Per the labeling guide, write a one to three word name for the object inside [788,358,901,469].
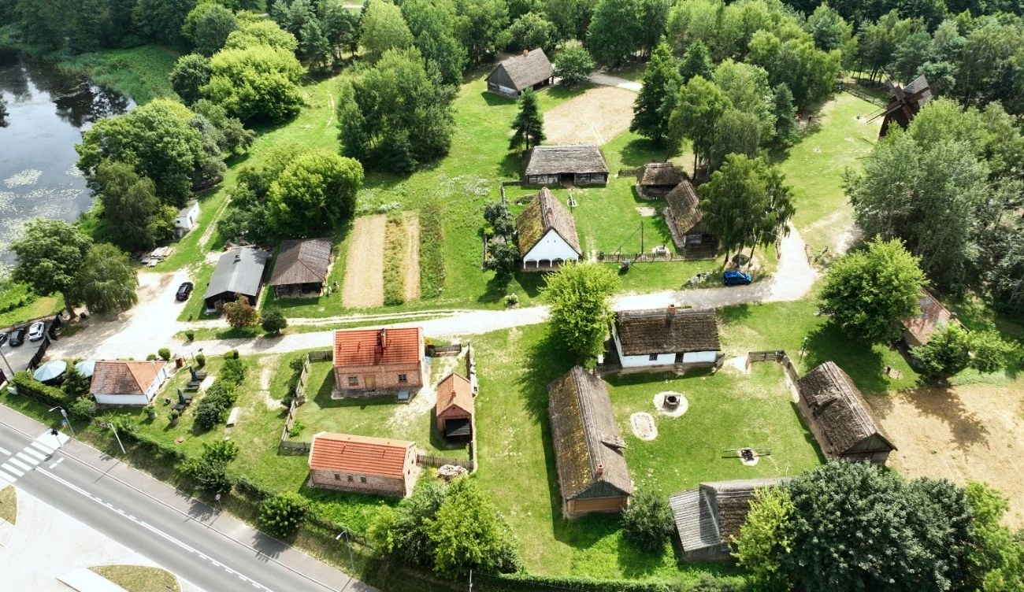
barn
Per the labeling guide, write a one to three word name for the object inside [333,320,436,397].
house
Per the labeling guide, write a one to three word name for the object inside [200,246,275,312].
shed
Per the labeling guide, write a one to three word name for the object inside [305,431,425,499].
barn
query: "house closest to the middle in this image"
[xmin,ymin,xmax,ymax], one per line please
[516,187,580,271]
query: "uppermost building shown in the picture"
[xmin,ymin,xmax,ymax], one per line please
[485,48,556,99]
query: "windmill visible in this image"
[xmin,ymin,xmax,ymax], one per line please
[861,54,960,139]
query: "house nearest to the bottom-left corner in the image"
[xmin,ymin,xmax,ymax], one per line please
[90,353,168,406]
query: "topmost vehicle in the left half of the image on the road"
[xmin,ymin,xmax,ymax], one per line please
[172,282,195,300]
